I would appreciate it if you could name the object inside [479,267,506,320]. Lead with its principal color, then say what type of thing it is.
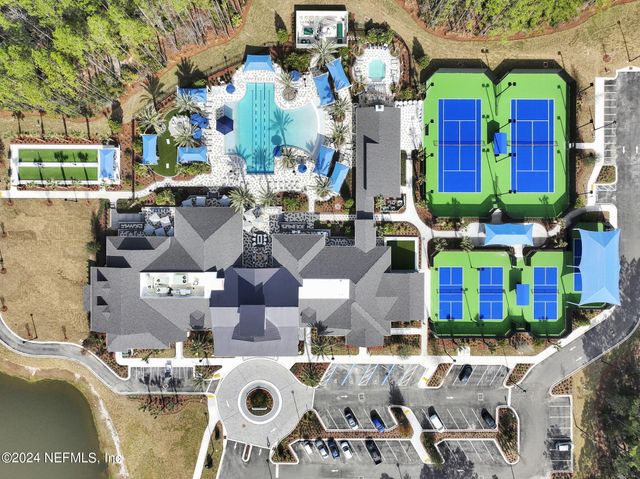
blue sports court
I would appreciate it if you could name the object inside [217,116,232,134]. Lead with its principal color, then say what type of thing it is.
blue umbrella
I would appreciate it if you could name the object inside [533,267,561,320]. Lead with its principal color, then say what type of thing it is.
blue sports court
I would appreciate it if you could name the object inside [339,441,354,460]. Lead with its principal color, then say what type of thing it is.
white car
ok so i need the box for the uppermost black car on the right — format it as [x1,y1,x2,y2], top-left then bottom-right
[458,363,472,382]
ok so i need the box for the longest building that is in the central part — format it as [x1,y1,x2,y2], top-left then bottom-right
[84,207,424,356]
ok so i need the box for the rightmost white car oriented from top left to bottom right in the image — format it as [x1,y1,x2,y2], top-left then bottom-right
[428,411,443,431]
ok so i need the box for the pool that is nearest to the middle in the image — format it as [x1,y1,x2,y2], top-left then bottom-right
[224,82,320,174]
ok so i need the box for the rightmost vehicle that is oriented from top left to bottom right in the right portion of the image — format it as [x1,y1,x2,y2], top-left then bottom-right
[481,409,495,428]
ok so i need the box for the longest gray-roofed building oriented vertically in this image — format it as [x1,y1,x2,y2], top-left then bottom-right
[356,105,401,212]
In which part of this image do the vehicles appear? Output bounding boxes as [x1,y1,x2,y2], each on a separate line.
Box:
[344,411,359,430]
[481,409,495,428]
[371,414,385,433]
[458,363,472,382]
[339,441,354,460]
[366,442,382,465]
[301,438,316,457]
[326,440,341,458]
[428,411,443,431]
[550,441,569,452]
